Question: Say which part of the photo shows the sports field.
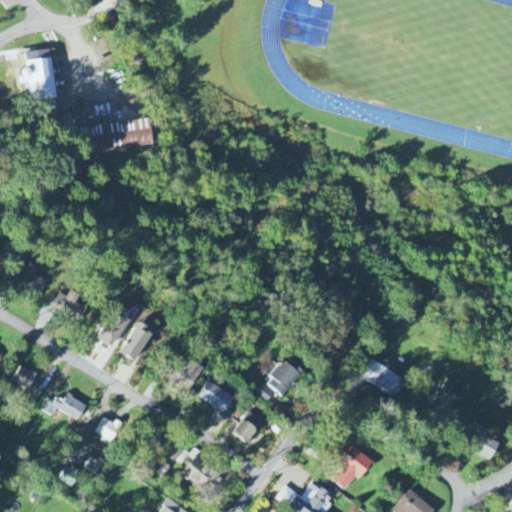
top right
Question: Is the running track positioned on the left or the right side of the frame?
right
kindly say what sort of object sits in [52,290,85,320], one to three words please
house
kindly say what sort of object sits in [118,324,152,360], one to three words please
house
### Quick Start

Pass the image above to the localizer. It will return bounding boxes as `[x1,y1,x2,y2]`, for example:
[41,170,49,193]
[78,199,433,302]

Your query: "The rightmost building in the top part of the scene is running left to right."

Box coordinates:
[84,118,154,152]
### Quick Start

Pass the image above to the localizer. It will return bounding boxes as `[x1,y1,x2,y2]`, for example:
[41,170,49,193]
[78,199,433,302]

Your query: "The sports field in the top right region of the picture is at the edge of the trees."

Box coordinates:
[280,0,512,140]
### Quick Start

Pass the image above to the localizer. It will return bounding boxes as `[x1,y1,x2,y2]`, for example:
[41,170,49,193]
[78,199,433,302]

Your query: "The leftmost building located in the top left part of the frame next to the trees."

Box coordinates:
[18,48,57,98]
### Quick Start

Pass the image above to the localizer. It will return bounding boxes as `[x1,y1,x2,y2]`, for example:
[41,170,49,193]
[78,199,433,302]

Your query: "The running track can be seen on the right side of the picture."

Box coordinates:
[262,0,512,159]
